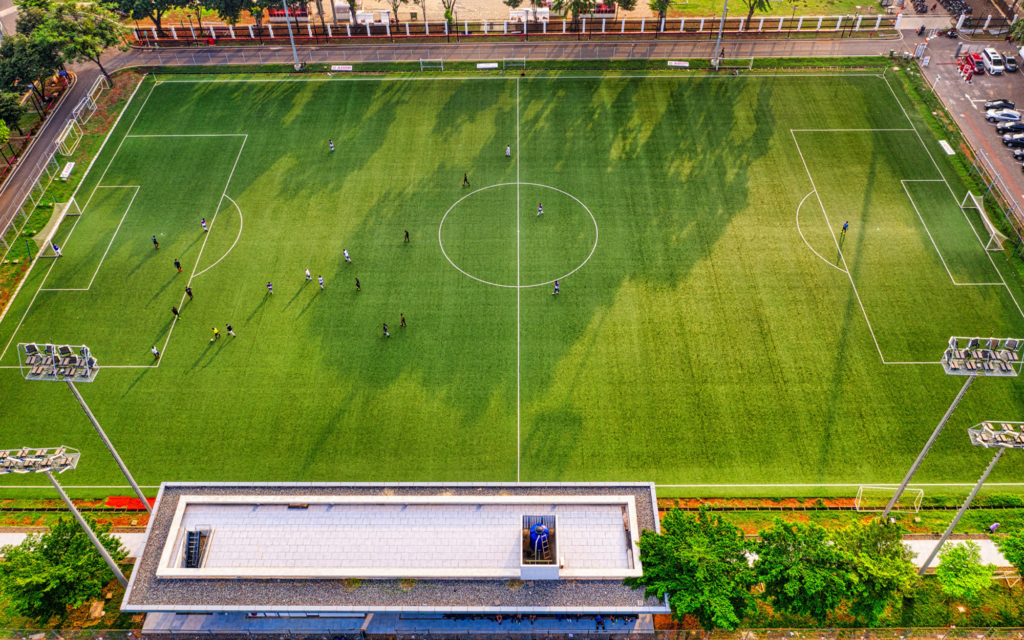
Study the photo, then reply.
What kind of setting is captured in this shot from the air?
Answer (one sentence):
This image shows a sports ground.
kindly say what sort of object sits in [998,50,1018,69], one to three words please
car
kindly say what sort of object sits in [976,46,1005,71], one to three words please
car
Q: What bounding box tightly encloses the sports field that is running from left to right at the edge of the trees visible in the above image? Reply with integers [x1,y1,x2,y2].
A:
[0,70,1024,499]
